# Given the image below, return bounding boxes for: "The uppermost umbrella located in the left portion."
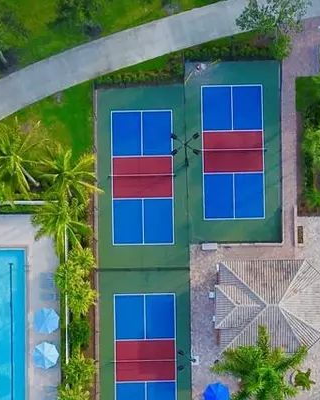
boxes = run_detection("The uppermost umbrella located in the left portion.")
[34,307,59,333]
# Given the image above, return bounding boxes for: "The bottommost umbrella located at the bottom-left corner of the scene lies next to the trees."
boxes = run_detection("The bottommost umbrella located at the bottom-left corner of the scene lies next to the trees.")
[34,343,59,367]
